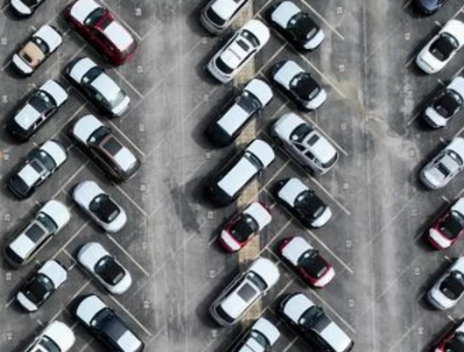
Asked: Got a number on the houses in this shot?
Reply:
0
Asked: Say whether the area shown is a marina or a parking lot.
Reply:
parking lot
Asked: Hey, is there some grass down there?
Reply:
No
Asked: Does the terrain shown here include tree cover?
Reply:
No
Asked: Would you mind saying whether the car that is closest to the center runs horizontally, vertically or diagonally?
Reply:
diagonally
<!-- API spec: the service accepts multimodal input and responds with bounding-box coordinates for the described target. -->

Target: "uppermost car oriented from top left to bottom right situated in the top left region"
[67,0,135,66]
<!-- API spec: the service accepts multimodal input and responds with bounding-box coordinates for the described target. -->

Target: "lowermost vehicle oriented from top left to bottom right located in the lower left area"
[76,296,146,352]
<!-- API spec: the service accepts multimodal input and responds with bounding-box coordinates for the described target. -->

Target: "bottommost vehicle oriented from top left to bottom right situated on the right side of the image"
[279,294,350,352]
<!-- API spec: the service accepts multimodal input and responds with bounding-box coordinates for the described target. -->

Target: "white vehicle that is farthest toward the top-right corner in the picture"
[416,22,464,72]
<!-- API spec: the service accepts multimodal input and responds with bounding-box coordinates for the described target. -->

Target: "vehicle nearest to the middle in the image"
[206,141,275,207]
